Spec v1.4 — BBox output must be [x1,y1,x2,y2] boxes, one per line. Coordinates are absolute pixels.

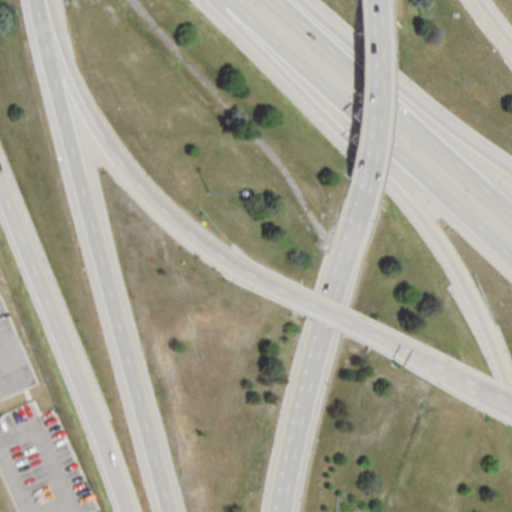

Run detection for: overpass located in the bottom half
[279,278,386,354]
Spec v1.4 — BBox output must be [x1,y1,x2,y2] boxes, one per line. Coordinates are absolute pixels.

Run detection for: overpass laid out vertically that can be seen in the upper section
[340,0,400,214]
